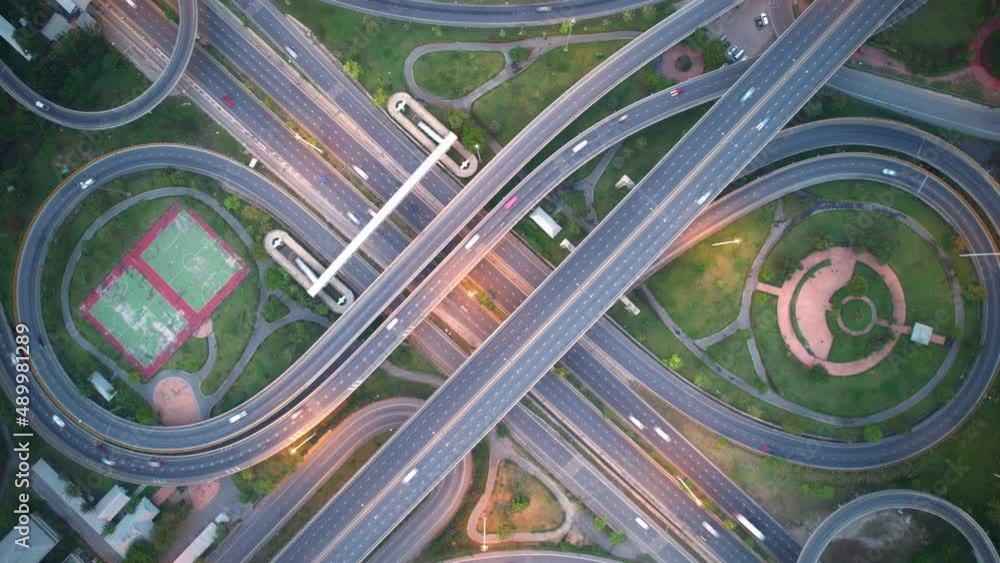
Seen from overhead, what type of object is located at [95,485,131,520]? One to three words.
house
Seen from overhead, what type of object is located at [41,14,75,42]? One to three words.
house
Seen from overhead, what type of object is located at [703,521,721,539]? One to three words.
vehicle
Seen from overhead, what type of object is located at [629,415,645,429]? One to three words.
vehicle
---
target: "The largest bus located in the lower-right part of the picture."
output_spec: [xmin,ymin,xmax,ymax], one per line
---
[735,512,769,543]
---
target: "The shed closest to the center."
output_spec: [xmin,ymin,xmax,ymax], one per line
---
[531,207,561,237]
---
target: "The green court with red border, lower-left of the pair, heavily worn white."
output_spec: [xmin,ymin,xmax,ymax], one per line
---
[79,259,197,378]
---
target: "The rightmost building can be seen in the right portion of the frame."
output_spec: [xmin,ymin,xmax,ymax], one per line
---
[911,323,939,346]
